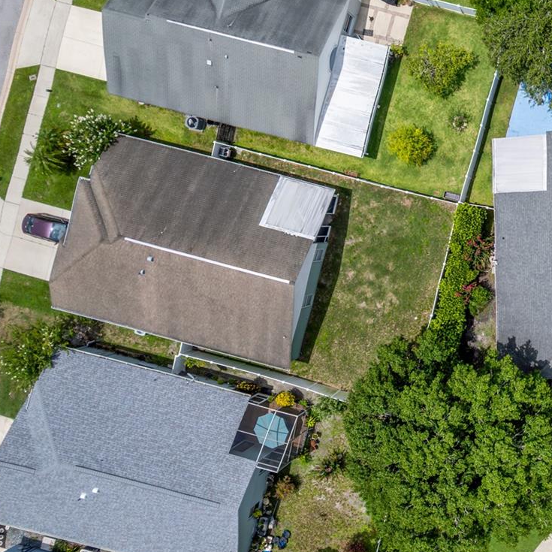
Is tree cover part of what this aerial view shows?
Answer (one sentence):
Yes, there is tree cover in the image.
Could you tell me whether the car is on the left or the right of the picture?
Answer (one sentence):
The car sits on the left side.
